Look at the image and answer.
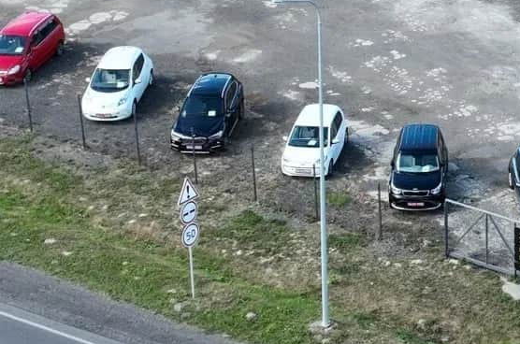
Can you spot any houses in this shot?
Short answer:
No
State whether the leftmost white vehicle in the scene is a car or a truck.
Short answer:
car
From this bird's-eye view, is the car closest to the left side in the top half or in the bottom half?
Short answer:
top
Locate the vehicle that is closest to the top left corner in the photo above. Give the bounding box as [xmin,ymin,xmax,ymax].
[0,7,65,83]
